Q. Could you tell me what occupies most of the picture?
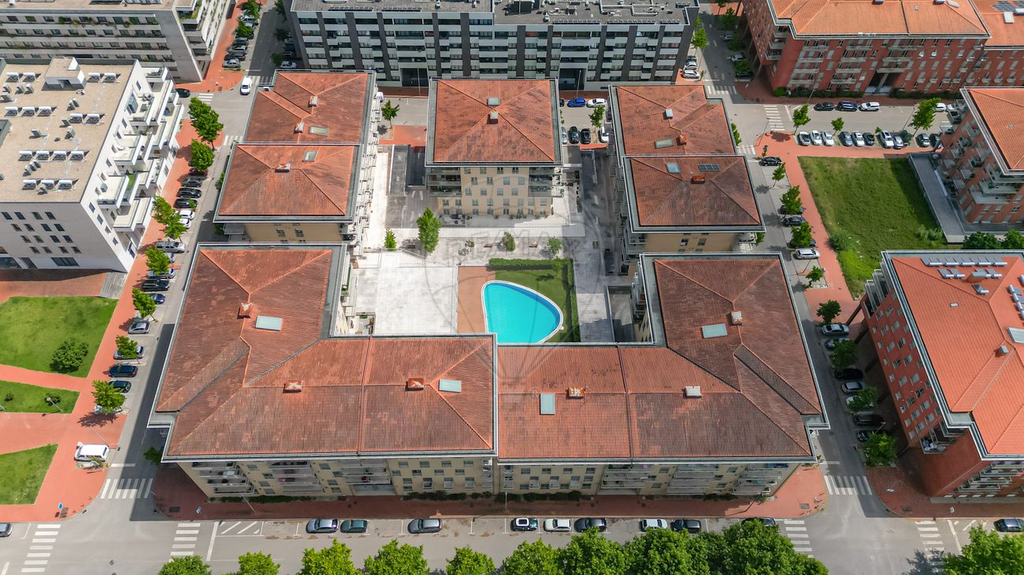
buildings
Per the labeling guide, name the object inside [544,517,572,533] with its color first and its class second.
white car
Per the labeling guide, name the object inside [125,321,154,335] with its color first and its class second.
gray car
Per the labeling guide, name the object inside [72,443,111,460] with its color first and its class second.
white vehicle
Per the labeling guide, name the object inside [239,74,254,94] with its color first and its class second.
white vehicle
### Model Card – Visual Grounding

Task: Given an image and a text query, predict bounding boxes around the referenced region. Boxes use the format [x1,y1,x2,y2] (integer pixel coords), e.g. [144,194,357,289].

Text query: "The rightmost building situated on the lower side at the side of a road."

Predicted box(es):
[851,251,1024,503]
